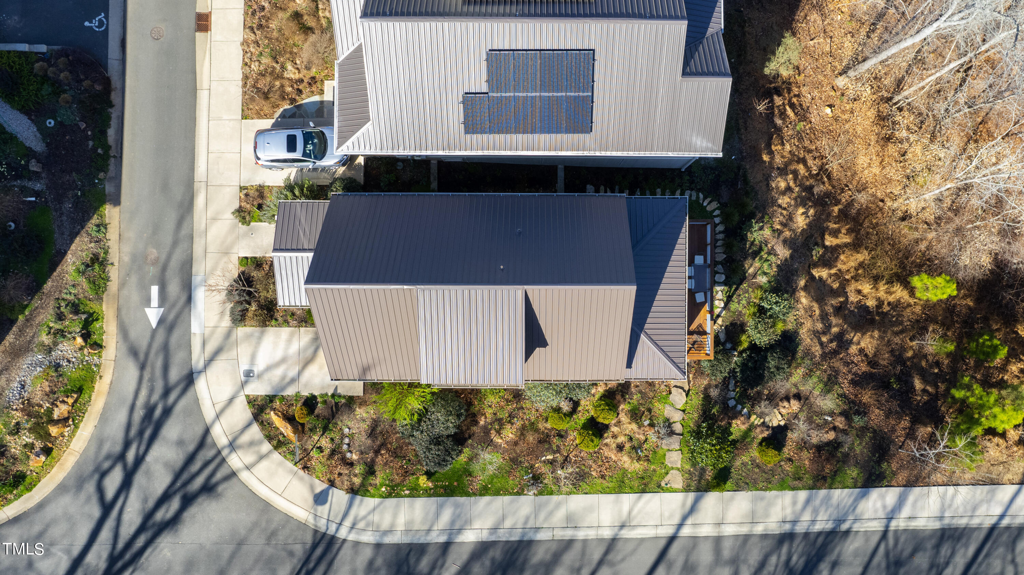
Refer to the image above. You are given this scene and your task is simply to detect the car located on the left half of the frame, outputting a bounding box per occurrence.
[252,120,352,169]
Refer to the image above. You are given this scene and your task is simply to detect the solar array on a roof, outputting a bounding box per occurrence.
[459,50,596,134]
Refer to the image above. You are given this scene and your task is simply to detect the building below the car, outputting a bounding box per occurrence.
[271,192,687,389]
